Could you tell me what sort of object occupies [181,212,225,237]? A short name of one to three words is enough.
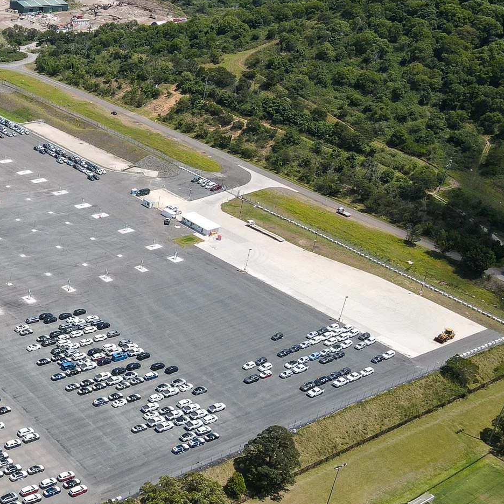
building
